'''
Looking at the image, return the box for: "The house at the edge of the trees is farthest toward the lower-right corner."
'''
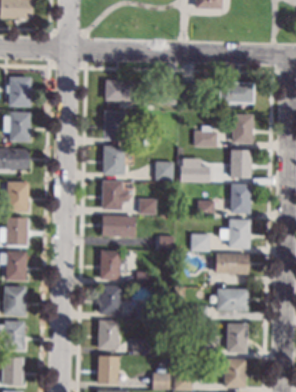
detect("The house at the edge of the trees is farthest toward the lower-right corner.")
[224,358,250,388]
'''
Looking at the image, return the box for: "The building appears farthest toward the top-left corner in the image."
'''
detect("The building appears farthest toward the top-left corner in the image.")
[0,0,34,19]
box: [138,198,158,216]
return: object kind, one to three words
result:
building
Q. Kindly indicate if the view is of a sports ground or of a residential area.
residential area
